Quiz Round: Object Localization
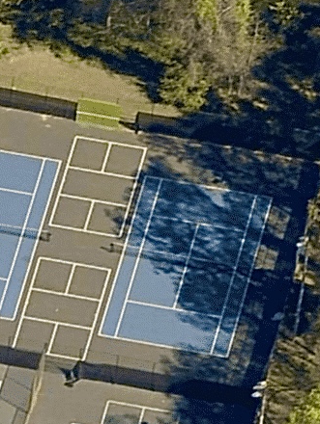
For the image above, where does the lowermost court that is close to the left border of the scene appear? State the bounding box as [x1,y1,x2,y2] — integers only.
[14,257,110,360]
